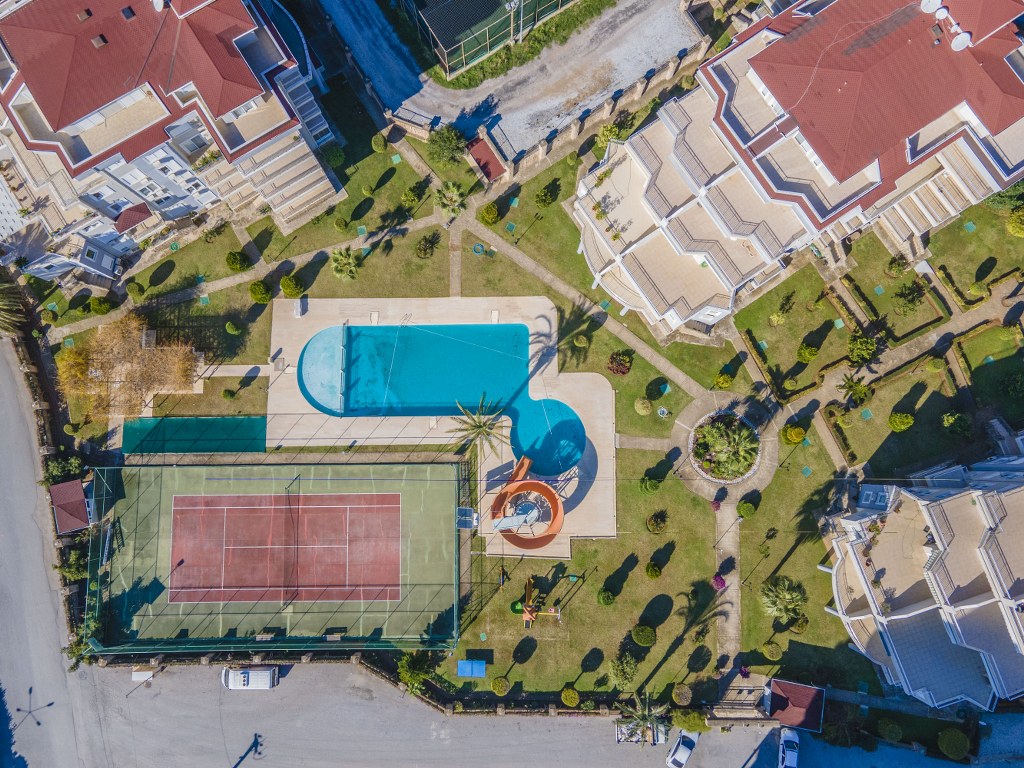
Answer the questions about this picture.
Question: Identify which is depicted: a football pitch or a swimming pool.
swimming pool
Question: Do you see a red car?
No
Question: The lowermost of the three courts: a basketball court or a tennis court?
tennis court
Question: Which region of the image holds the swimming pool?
center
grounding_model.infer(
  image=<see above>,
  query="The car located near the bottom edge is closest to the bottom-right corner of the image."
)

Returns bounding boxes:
[778,732,802,768]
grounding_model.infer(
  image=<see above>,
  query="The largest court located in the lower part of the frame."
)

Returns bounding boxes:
[84,462,460,654]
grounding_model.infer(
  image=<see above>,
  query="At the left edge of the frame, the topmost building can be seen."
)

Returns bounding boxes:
[0,0,341,277]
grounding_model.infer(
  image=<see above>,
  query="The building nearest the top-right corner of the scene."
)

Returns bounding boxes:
[571,0,1024,334]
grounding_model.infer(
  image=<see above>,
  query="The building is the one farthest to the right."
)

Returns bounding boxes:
[823,432,1024,713]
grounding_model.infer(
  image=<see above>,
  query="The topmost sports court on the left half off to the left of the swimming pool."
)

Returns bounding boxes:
[122,416,267,454]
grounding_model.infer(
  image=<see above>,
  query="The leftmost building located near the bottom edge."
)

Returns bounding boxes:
[762,676,826,733]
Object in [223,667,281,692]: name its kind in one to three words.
vehicle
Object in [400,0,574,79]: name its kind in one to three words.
sports court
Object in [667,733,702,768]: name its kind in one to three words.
car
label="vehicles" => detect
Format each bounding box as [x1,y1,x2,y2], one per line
[778,732,802,768]
[223,667,281,692]
[616,722,663,744]
[667,733,702,768]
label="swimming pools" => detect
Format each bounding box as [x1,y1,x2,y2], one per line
[267,296,616,558]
